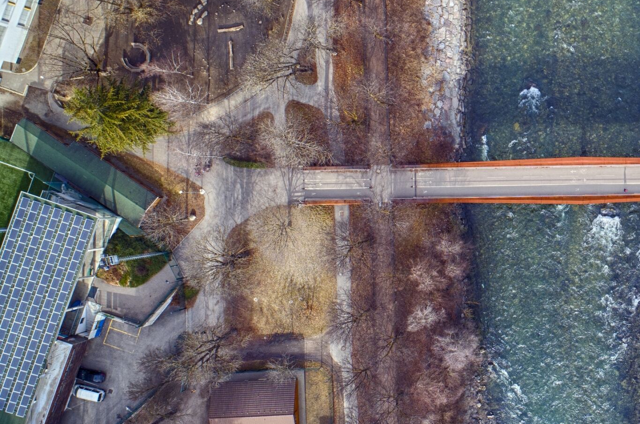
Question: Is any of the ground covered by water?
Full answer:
Yes, water shows up in the scene.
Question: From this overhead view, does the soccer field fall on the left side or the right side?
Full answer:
The soccer field is on the left side of the image.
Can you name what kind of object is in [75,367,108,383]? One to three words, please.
car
